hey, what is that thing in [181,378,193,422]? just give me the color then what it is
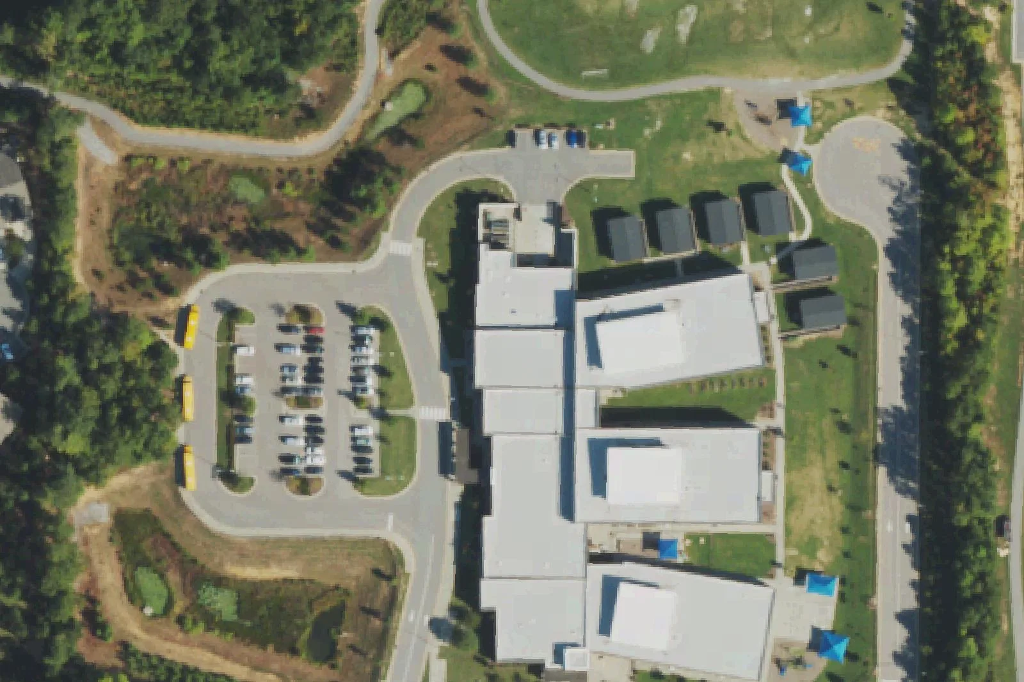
yellow vehicle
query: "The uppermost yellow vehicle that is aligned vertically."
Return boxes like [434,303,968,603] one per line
[183,304,199,349]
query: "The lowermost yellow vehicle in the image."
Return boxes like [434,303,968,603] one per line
[183,446,197,490]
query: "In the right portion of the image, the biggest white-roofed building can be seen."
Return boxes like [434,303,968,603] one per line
[474,250,774,680]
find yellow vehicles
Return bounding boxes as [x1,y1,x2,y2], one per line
[183,446,197,490]
[183,304,199,349]
[181,378,193,422]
